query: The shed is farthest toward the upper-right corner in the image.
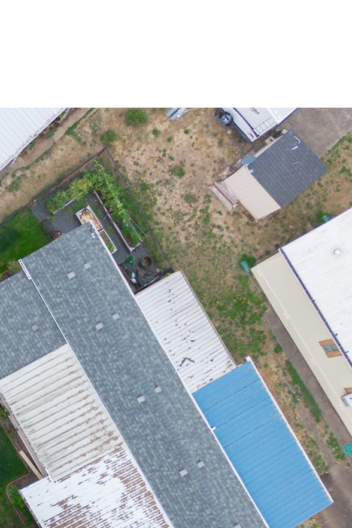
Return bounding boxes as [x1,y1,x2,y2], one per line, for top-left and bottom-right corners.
[228,130,325,217]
